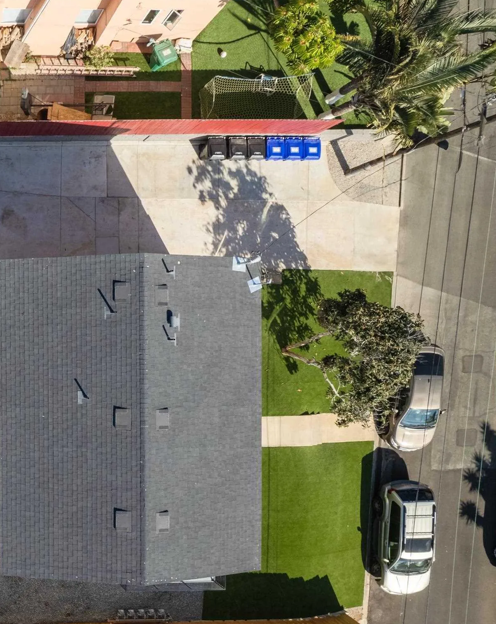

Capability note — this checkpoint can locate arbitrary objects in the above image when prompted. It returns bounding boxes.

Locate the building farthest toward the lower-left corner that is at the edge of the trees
[0,253,262,586]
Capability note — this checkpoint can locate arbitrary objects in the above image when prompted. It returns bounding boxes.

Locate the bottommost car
[365,478,433,595]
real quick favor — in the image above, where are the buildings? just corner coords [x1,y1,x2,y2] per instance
[0,0,229,57]
[0,253,262,586]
